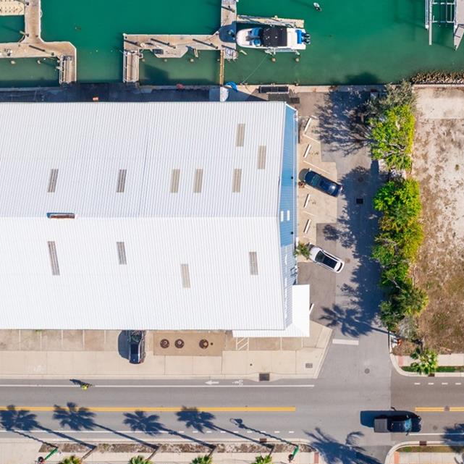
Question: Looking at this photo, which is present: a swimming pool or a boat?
boat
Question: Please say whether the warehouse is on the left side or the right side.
left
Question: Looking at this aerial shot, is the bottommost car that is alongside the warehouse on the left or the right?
left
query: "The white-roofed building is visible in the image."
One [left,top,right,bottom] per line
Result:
[0,96,311,337]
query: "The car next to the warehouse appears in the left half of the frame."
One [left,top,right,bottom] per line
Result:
[124,328,145,366]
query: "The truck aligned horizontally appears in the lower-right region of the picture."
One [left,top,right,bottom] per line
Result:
[373,413,421,435]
